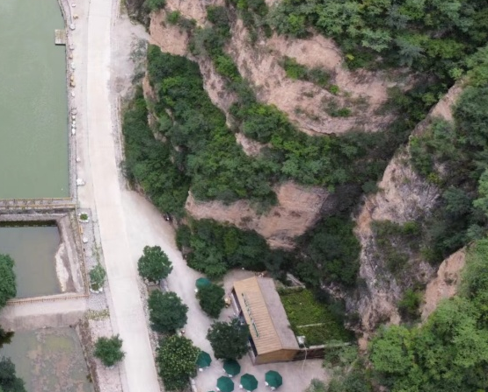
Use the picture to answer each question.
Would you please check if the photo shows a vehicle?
No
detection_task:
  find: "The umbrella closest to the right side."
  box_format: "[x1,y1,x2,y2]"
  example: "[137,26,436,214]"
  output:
[265,372,282,388]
